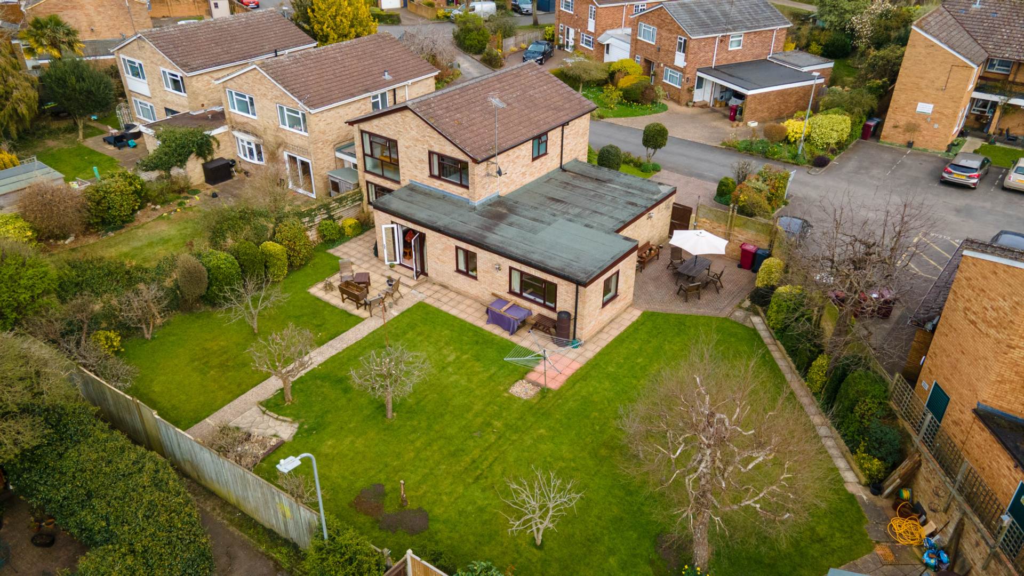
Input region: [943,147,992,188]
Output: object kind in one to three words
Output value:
car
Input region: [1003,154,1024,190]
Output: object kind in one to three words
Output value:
car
